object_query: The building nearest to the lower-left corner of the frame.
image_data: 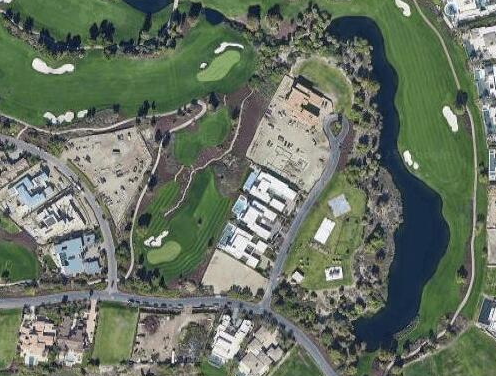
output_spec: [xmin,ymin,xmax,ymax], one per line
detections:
[21,317,56,358]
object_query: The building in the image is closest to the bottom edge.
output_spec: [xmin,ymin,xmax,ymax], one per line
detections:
[239,339,285,376]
